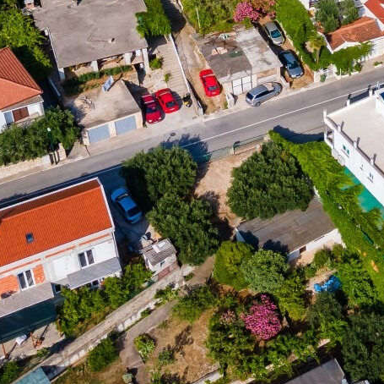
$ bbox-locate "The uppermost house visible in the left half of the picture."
[37,0,150,87]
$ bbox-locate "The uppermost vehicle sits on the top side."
[265,20,284,44]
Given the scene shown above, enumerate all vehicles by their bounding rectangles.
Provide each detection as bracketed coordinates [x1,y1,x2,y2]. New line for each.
[265,20,284,44]
[200,69,219,96]
[141,94,162,120]
[180,96,193,106]
[282,51,302,76]
[112,188,140,220]
[246,83,283,103]
[157,86,182,113]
